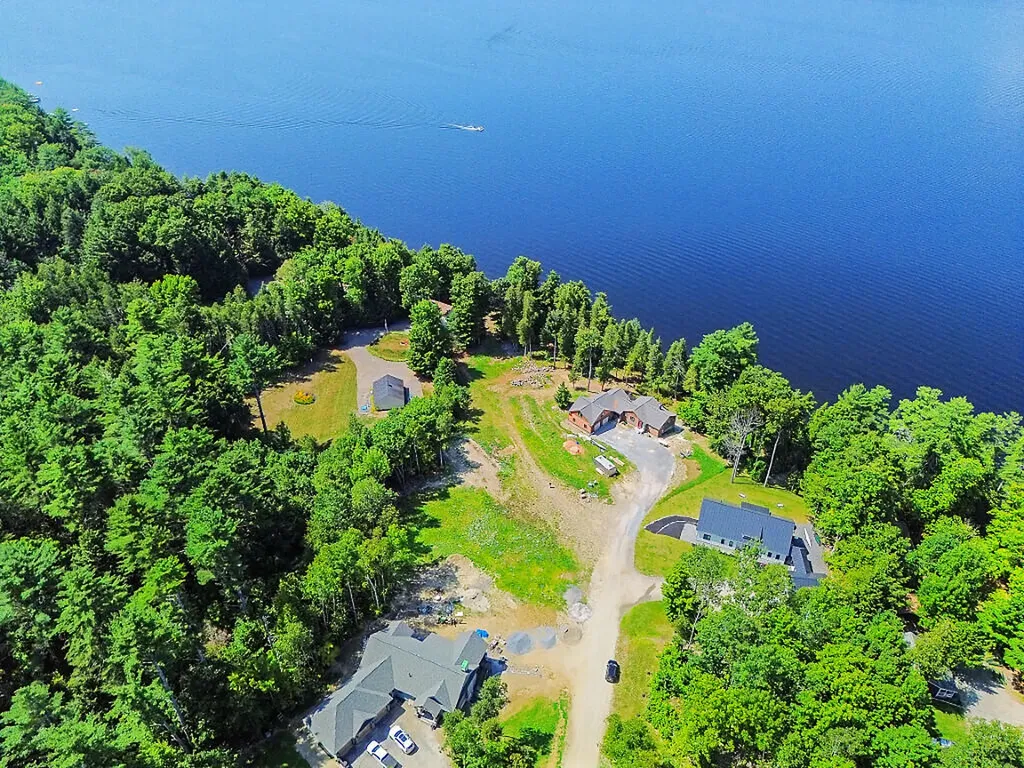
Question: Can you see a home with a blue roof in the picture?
Yes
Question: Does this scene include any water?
Yes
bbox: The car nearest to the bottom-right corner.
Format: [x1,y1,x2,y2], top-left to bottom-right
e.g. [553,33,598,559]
[605,655,619,683]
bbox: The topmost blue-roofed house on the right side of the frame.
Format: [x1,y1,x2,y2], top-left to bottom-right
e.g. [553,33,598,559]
[696,499,802,581]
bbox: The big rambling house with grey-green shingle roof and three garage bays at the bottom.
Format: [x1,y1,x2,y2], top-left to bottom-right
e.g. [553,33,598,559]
[300,618,493,761]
